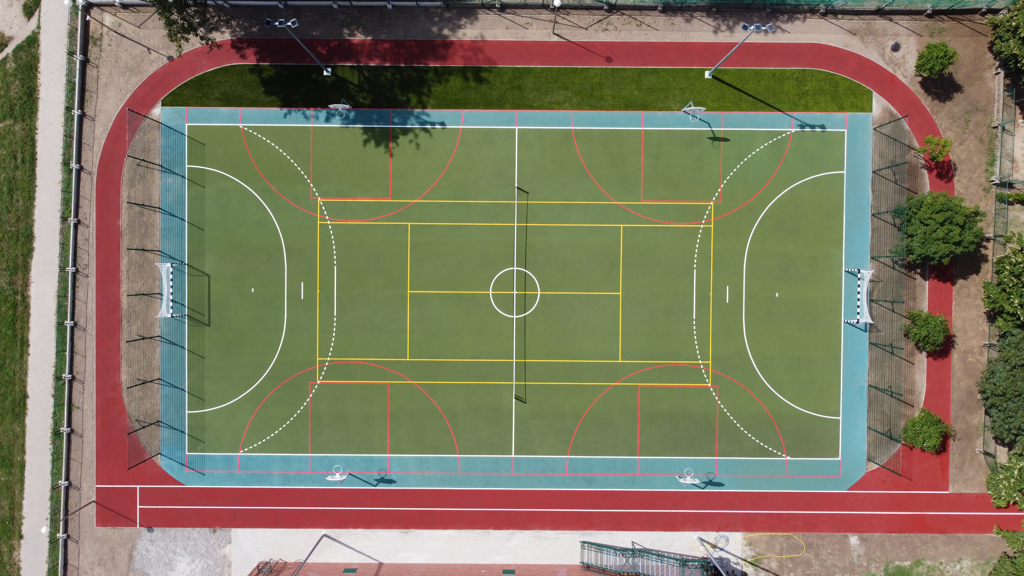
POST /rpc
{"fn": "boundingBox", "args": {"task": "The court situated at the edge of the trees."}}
[160,92,874,491]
